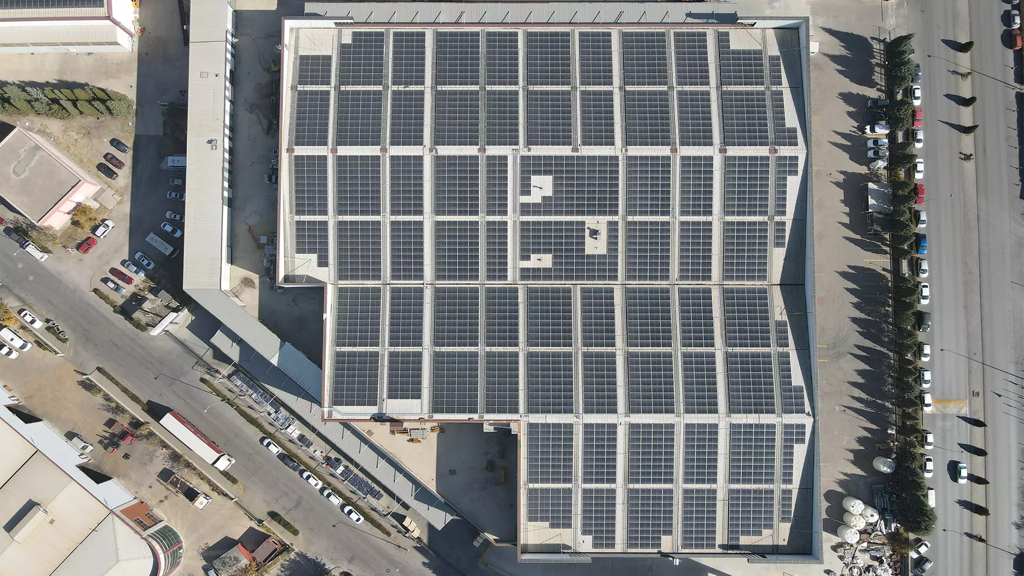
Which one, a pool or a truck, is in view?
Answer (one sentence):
I can see a truck in this picture.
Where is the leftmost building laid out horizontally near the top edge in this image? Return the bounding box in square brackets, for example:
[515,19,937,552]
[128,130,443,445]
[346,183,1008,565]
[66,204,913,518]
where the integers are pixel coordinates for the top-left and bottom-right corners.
[0,0,141,56]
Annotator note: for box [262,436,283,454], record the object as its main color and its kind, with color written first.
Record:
white car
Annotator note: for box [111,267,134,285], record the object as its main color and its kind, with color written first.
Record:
red car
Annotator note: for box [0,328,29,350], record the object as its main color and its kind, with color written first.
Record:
white vehicle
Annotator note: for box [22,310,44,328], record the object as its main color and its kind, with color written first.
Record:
white car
